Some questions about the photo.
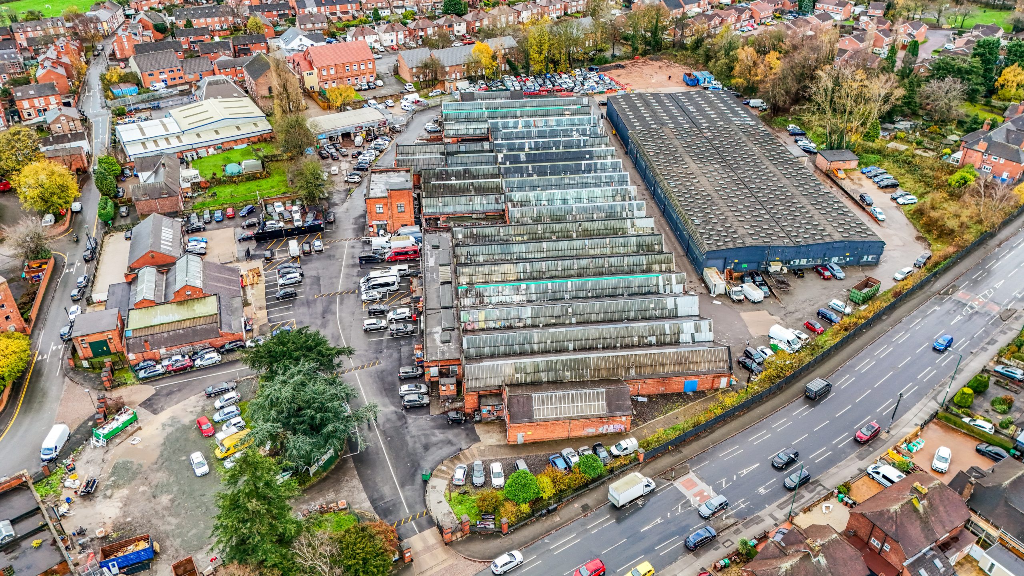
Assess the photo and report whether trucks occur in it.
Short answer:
Yes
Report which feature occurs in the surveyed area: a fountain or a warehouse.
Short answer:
warehouse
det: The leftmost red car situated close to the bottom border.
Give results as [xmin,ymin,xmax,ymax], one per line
[573,556,608,576]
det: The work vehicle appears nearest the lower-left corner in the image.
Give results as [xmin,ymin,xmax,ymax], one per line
[74,524,89,538]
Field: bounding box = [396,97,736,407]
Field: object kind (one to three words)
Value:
building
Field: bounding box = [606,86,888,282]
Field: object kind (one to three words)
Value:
warehouse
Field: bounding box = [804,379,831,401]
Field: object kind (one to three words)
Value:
vehicle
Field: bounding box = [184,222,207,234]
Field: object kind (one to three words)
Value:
vehicle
